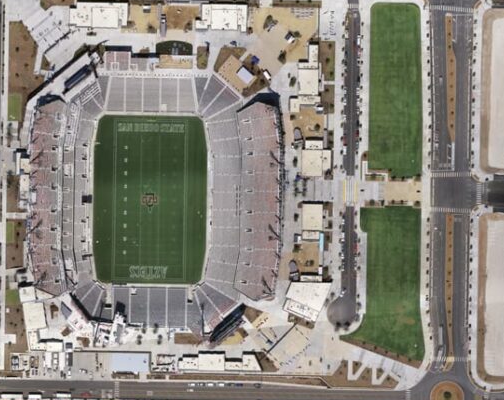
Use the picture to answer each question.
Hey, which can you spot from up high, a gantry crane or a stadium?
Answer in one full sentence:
The image shows a stadium.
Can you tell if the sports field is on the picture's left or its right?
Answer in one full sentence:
The sports field appears in the left half of the scene.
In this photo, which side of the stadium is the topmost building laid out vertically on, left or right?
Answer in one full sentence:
The topmost building laid out vertically appears to the right of the stadium in this view.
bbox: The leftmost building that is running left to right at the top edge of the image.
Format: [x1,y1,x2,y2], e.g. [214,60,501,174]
[70,2,128,28]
